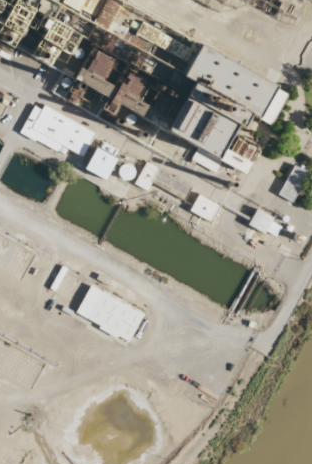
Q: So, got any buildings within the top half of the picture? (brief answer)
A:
Yes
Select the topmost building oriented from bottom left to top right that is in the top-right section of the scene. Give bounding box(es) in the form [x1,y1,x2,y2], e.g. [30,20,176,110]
[260,88,290,124]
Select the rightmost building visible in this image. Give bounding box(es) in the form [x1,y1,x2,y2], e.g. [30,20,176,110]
[278,164,308,203]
